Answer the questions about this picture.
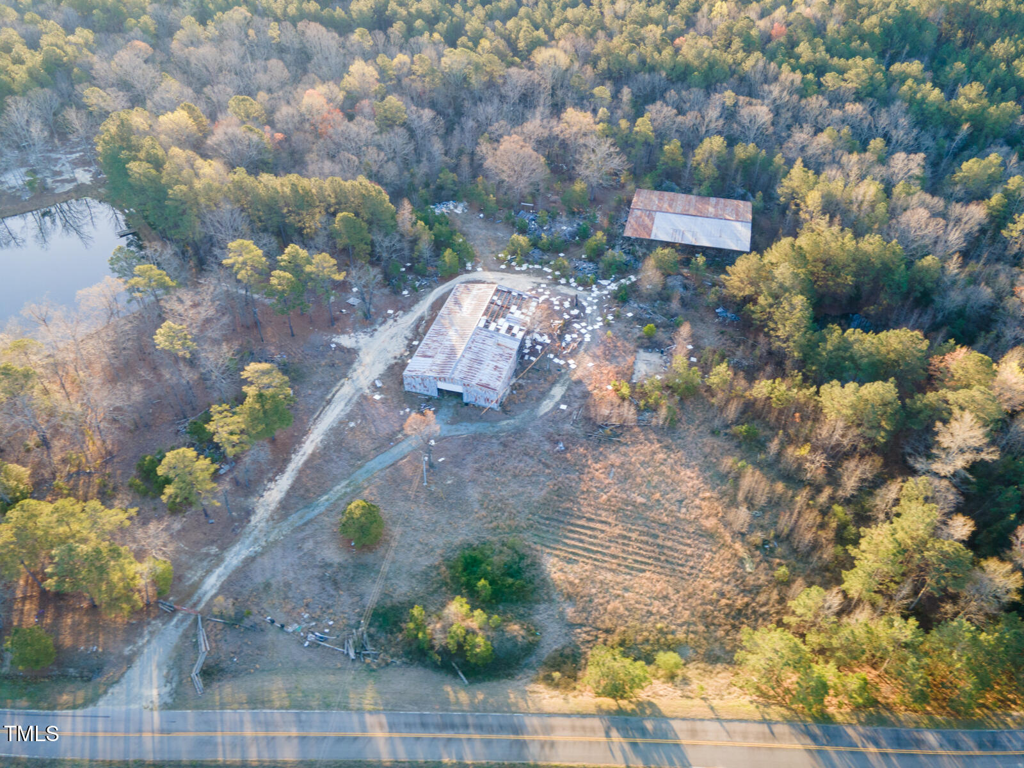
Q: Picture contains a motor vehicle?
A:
No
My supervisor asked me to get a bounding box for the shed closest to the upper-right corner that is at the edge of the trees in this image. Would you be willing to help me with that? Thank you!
[623,188,751,262]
